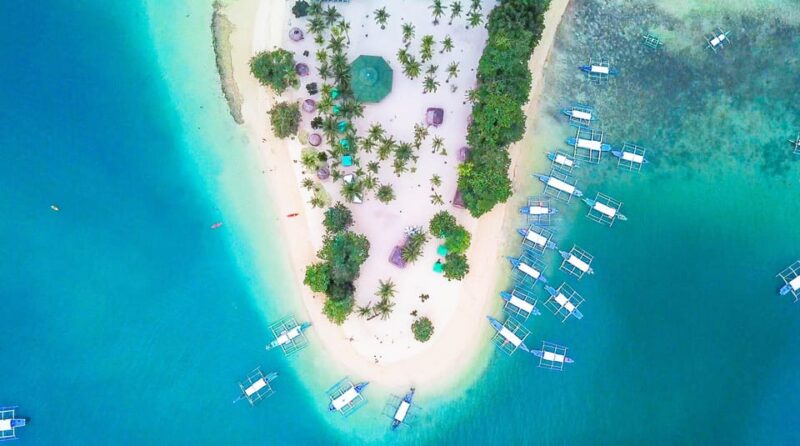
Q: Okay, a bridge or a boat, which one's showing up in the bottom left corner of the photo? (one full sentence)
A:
It is a boat that can be seen in the bottom left corner of the photo.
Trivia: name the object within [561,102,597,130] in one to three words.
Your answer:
boat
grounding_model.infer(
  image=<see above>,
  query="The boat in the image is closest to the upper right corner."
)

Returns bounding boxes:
[700,28,733,57]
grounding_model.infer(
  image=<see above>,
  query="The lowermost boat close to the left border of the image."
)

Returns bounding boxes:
[0,402,27,444]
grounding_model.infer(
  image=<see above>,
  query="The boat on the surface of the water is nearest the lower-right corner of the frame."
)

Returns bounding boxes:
[778,258,800,301]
